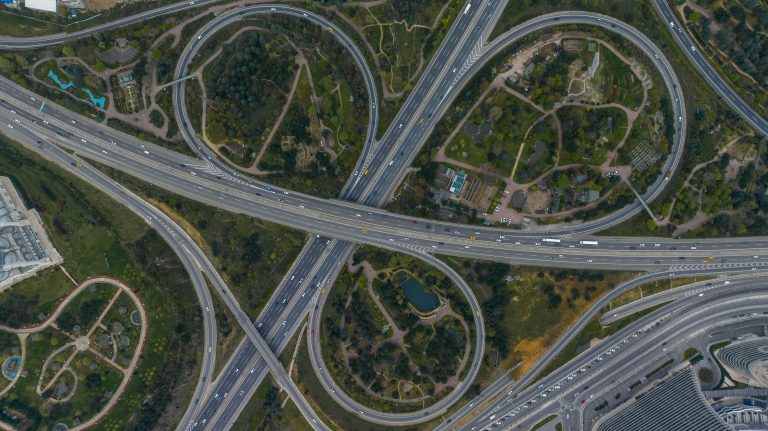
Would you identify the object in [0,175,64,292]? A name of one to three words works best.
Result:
building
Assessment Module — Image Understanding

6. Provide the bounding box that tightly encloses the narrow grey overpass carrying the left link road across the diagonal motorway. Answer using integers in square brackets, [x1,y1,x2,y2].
[230,301,296,391]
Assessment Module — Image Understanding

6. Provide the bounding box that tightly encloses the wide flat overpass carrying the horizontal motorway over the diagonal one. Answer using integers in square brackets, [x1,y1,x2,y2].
[302,193,394,245]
